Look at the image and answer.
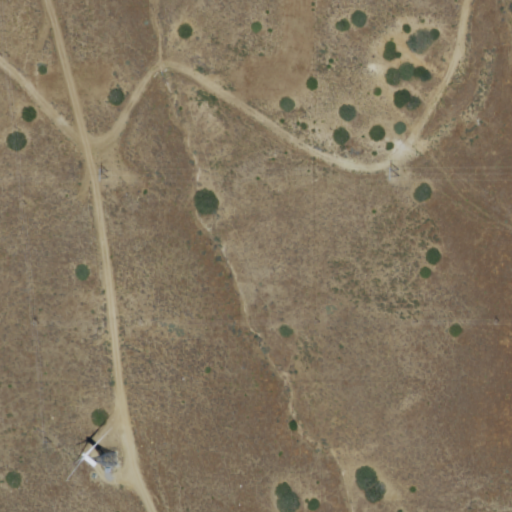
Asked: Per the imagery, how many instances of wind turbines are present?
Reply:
1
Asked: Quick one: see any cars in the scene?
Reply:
No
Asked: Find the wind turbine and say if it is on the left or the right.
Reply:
left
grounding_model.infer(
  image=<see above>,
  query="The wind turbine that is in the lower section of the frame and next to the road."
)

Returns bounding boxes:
[69,430,118,484]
